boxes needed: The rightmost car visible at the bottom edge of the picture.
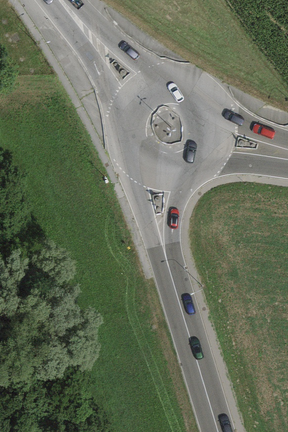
[220,414,232,432]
